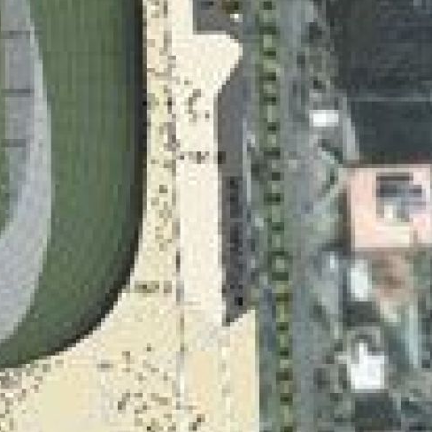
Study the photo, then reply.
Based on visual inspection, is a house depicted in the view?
Yes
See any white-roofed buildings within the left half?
No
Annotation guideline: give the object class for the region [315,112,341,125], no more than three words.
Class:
shed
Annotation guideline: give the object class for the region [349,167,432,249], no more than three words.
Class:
house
